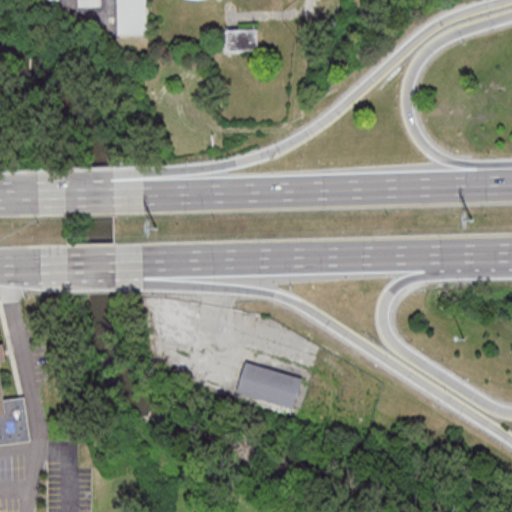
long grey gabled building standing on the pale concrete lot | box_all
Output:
[237,360,304,410]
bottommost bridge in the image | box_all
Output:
[67,242,116,294]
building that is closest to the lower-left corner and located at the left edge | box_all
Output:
[0,398,32,443]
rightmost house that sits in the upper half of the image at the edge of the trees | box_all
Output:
[222,28,260,56]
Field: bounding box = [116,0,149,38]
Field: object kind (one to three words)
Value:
building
